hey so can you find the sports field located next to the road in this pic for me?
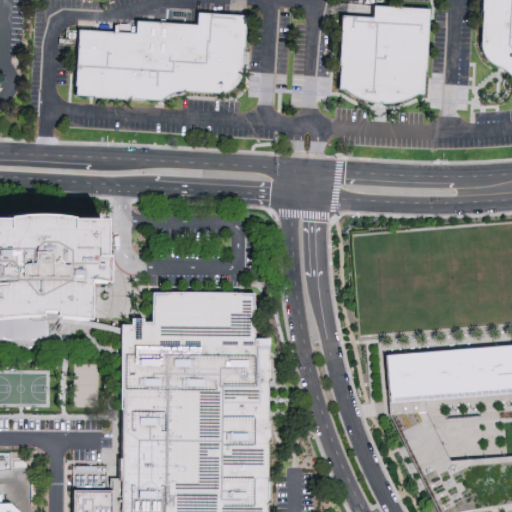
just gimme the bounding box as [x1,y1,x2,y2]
[353,224,512,336]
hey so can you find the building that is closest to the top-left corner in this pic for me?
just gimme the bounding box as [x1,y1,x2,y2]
[76,12,247,101]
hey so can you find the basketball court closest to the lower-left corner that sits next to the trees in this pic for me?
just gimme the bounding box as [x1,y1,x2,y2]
[0,370,50,406]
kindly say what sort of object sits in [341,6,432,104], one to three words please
building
